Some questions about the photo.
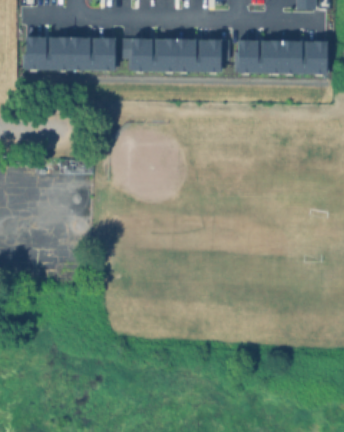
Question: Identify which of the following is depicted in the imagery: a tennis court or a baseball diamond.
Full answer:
This aerial view contains a baseball diamond.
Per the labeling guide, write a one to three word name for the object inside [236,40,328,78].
house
